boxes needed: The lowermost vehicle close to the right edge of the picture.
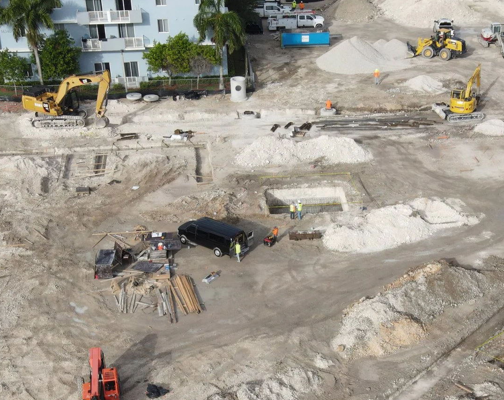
[439,51,482,115]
